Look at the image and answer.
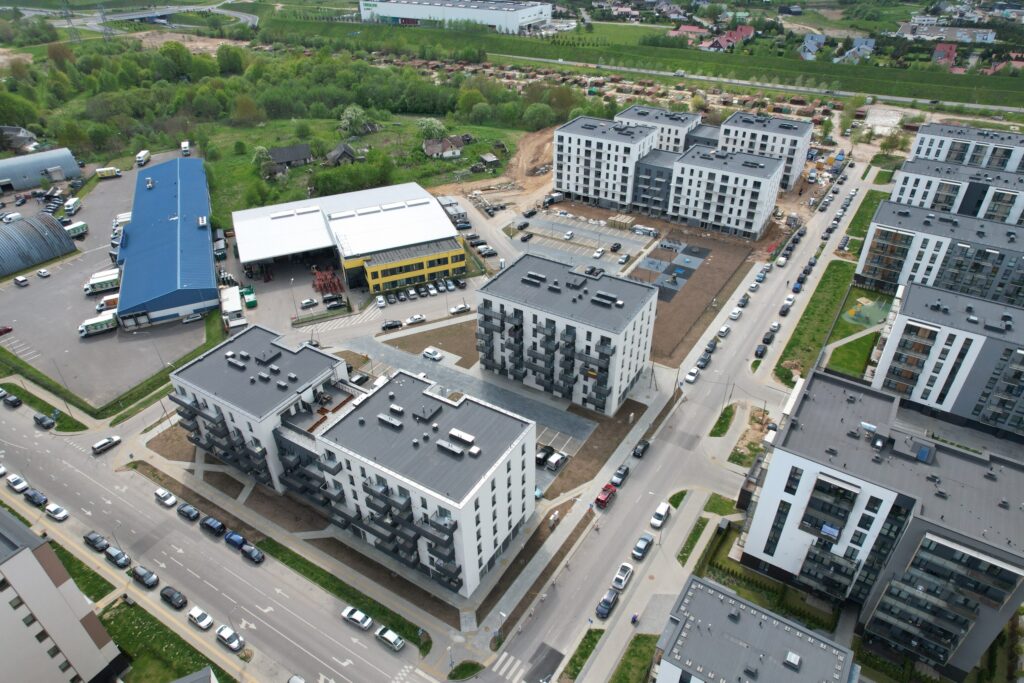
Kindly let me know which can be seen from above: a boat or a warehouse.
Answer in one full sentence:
I can see a warehouse in this picture.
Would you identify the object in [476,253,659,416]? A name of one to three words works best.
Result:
building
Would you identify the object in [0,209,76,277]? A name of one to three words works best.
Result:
hangar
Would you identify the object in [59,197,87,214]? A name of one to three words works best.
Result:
vehicle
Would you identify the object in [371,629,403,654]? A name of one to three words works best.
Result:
car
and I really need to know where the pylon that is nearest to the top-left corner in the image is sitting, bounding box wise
[56,0,82,40]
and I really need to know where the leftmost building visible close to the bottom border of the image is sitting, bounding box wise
[0,470,124,683]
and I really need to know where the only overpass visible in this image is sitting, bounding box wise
[95,3,237,28]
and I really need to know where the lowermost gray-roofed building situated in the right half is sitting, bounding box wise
[640,576,861,683]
